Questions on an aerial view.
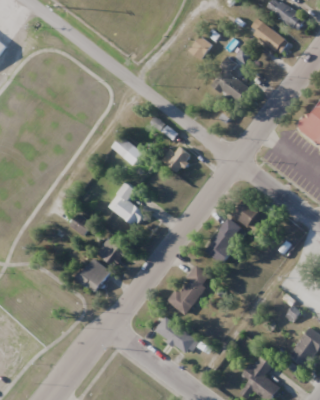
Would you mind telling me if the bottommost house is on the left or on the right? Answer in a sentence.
The bottommost house sits on the right side.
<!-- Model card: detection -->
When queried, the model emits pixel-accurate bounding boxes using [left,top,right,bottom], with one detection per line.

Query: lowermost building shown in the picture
[240,358,280,398]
